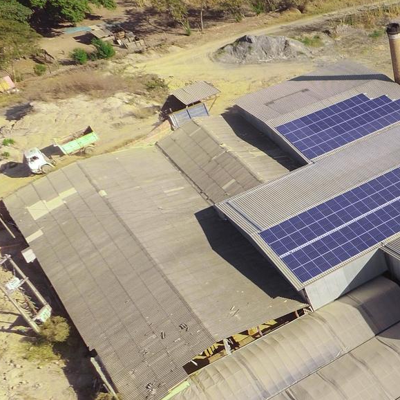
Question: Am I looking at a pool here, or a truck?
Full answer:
I can see a truck in this picture.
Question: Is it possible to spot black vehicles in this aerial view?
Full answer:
No, the picture doesn't show any black vehicle.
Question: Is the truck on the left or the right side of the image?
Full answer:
You can find the truck on the left side of the picture.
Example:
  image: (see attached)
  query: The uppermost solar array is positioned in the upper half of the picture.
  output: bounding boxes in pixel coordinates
[277,94,400,159]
